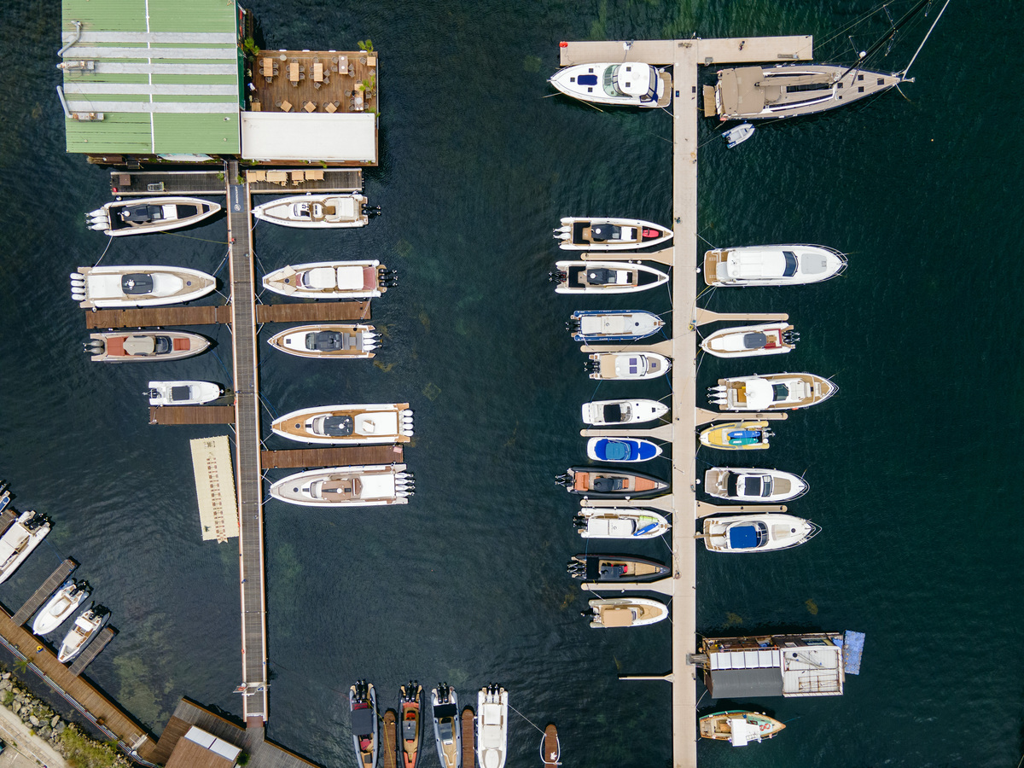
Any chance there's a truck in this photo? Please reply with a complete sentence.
No, I find no truck anywhere in the image.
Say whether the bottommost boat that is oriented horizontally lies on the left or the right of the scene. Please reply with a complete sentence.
The bottommost boat that is oriented horizontally appears in the right half of the scene.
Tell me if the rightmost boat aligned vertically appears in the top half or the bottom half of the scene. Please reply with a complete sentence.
The bottom half of the photo is where the rightmost boat aligned vertically is.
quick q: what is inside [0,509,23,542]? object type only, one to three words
pier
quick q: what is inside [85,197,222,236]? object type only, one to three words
boat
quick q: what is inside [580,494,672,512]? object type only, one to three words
pier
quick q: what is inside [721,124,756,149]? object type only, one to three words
boat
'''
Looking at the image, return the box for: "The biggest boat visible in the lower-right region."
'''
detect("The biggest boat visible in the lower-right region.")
[697,629,845,698]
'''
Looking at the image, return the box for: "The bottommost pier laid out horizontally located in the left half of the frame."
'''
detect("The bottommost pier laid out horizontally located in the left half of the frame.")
[261,445,403,468]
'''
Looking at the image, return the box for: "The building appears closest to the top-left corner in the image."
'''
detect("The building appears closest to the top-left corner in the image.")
[55,0,258,176]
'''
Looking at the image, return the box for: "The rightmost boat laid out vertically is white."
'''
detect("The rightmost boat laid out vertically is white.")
[478,682,508,768]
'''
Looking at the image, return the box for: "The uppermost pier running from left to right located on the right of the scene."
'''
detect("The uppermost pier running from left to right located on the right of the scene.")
[580,247,673,266]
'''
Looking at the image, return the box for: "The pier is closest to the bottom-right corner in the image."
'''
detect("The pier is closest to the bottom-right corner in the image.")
[843,628,866,675]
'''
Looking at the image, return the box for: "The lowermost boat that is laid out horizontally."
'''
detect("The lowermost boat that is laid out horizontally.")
[697,708,788,746]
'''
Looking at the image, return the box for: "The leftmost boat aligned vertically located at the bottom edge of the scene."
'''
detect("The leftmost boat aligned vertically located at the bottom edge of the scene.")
[351,678,379,768]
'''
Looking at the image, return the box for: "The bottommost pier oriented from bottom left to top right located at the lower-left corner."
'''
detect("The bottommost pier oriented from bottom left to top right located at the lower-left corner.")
[72,626,118,673]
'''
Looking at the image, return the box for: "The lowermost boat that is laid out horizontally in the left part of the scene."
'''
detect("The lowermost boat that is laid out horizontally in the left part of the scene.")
[269,464,415,506]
